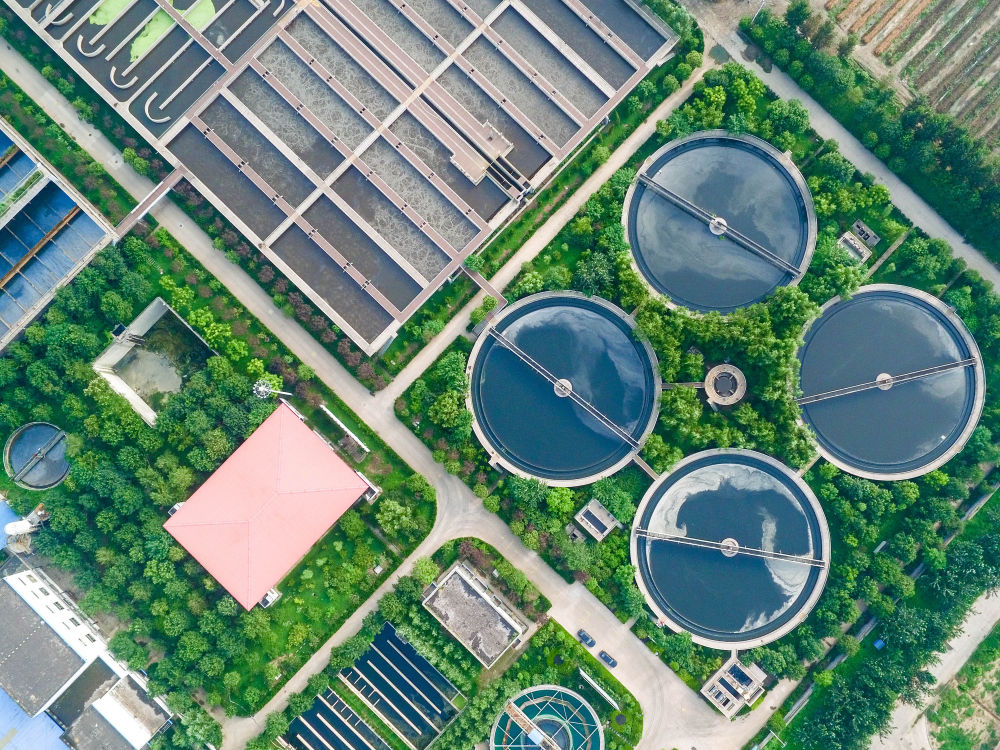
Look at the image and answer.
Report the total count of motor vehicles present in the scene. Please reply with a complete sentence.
There are 2 motor vehicles in the image.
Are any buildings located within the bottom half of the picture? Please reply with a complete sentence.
Yes, I can see a building within the bottom half of the picture.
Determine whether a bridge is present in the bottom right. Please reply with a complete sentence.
Yes, in the bottom right there is a bridge.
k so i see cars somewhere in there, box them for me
[597,647,619,669]
[575,627,597,648]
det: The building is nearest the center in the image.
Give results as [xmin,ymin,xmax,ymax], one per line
[573,497,624,542]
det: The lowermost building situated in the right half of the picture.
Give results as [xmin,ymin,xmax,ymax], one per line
[699,658,766,720]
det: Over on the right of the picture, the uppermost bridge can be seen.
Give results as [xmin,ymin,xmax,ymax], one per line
[637,175,803,275]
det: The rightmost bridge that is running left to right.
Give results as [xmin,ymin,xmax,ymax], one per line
[802,358,976,402]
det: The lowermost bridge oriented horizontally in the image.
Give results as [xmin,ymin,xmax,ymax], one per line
[634,528,826,567]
